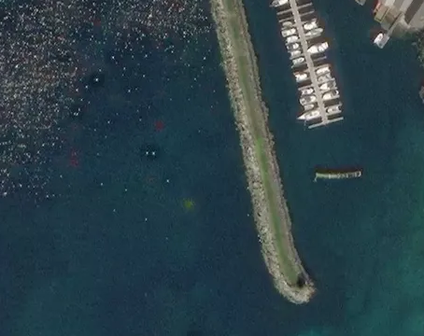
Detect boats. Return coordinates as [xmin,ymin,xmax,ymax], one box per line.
[319,81,337,91]
[288,50,301,57]
[285,43,300,51]
[317,73,334,82]
[316,67,332,76]
[290,57,306,65]
[302,21,318,30]
[375,32,385,46]
[322,91,340,101]
[305,27,325,37]
[272,0,291,7]
[307,40,331,54]
[296,109,323,124]
[294,73,308,82]
[280,28,297,37]
[299,95,317,105]
[325,105,342,113]
[299,88,314,95]
[302,104,316,111]
[280,22,294,30]
[285,36,299,44]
